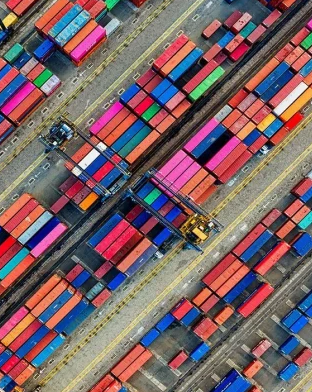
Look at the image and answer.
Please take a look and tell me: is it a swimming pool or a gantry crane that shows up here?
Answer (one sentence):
The image shows a gantry crane.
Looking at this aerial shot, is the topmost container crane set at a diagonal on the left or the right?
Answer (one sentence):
It is on the left.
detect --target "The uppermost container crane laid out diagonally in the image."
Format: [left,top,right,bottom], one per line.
[37,112,133,198]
